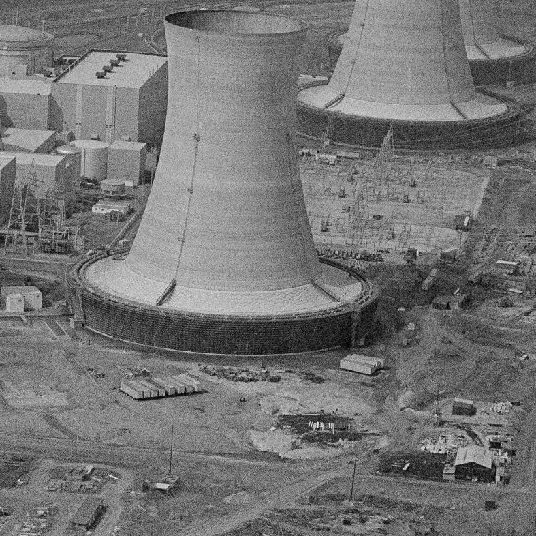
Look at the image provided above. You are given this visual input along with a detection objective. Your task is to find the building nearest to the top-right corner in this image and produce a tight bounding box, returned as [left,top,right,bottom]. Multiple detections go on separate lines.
[457,216,477,233]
